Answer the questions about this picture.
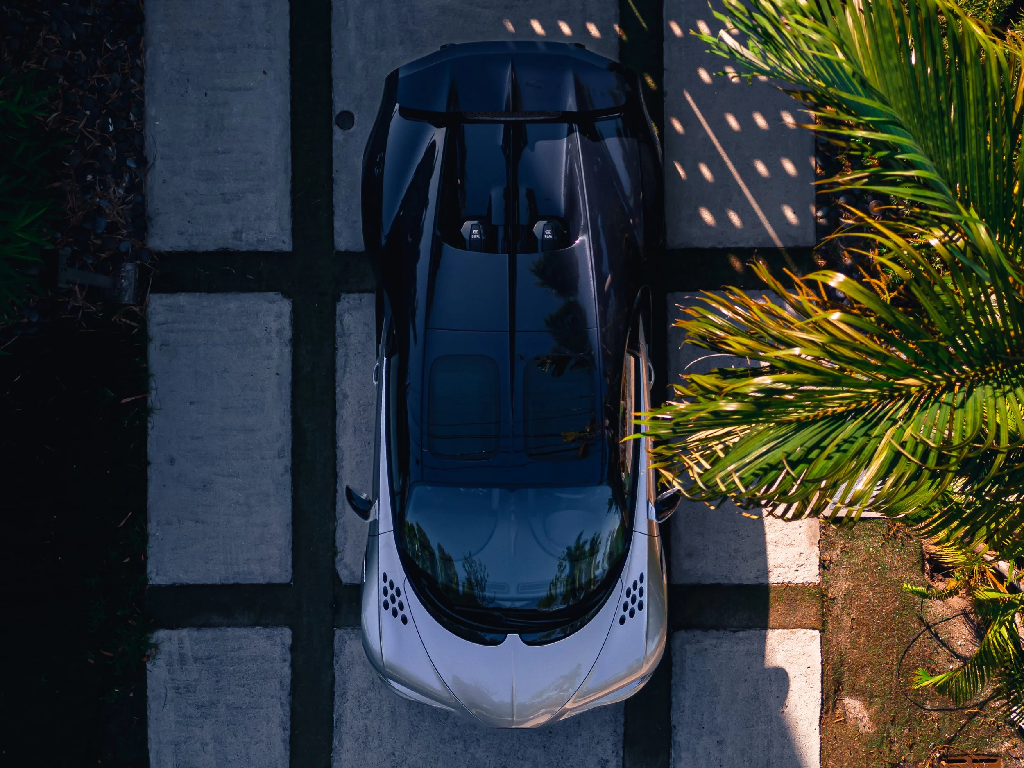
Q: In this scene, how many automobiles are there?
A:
1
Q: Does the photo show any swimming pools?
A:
No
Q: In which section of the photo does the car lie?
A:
center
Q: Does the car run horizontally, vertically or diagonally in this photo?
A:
vertically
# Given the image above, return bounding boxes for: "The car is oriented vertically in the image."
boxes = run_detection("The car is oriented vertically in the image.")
[345,37,681,729]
